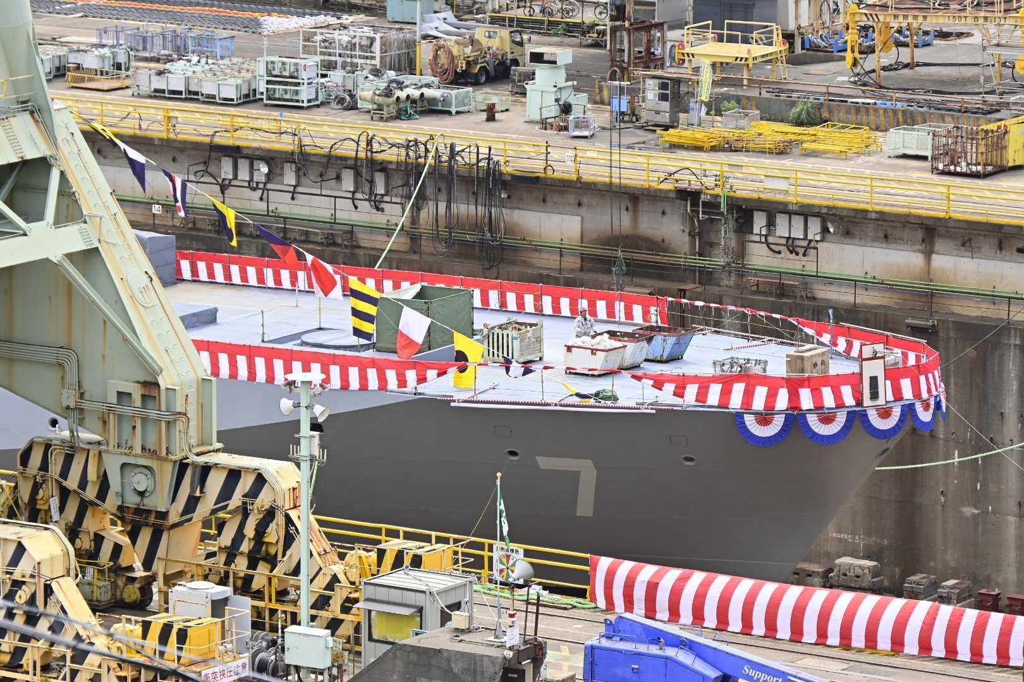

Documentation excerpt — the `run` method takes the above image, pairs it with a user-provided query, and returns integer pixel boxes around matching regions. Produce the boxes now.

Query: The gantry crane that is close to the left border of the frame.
[0,0,378,682]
